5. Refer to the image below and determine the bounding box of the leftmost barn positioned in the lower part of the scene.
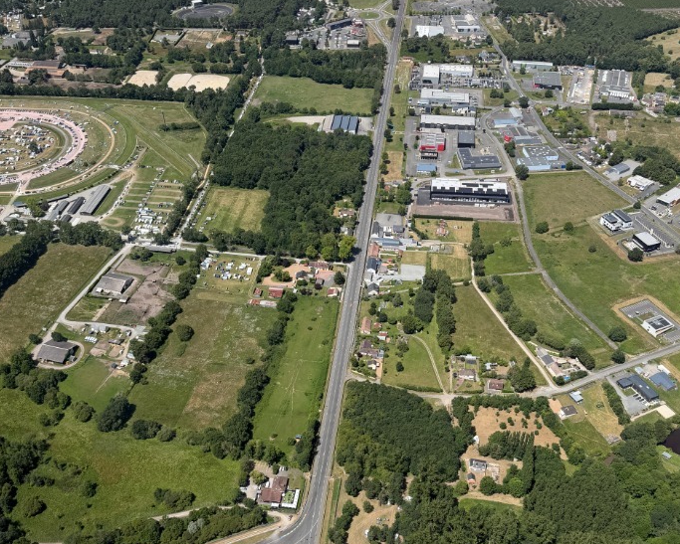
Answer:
[36,340,78,366]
